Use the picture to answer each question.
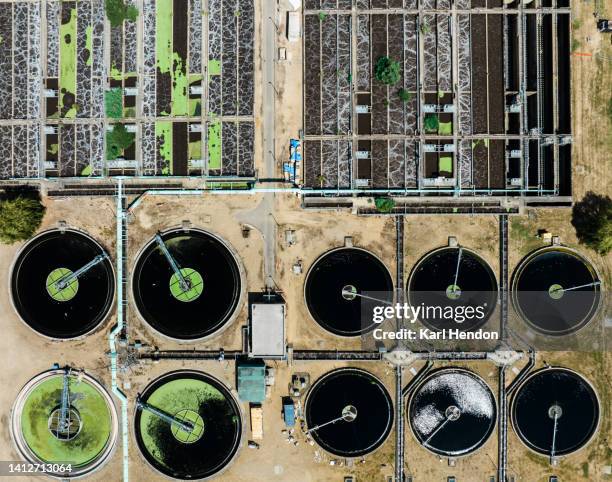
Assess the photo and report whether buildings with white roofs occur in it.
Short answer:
Yes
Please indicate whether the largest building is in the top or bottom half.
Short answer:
bottom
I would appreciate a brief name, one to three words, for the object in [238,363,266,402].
shed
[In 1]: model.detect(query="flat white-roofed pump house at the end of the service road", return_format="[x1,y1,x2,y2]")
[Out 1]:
[252,301,287,357]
